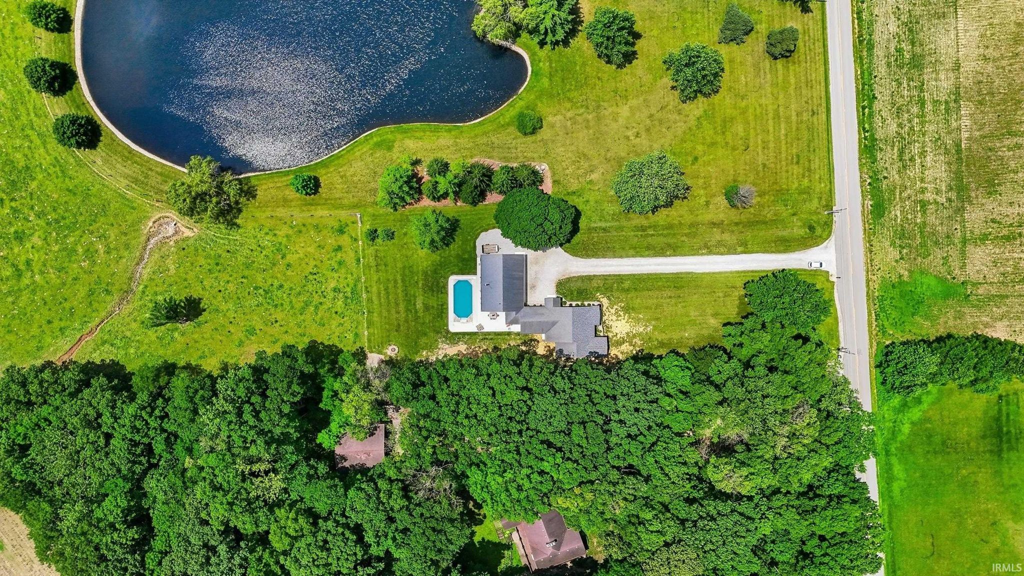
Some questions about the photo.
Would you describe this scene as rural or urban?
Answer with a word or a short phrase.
rural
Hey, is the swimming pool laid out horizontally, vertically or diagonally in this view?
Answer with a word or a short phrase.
vertically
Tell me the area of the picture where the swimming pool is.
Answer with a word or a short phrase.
center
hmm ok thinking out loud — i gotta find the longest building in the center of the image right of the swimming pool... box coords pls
[506,298,608,358]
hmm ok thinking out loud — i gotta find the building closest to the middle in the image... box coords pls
[481,254,525,312]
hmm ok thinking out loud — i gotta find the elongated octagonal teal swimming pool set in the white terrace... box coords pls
[453,279,473,322]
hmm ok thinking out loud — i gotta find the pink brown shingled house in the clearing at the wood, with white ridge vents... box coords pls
[517,509,586,574]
